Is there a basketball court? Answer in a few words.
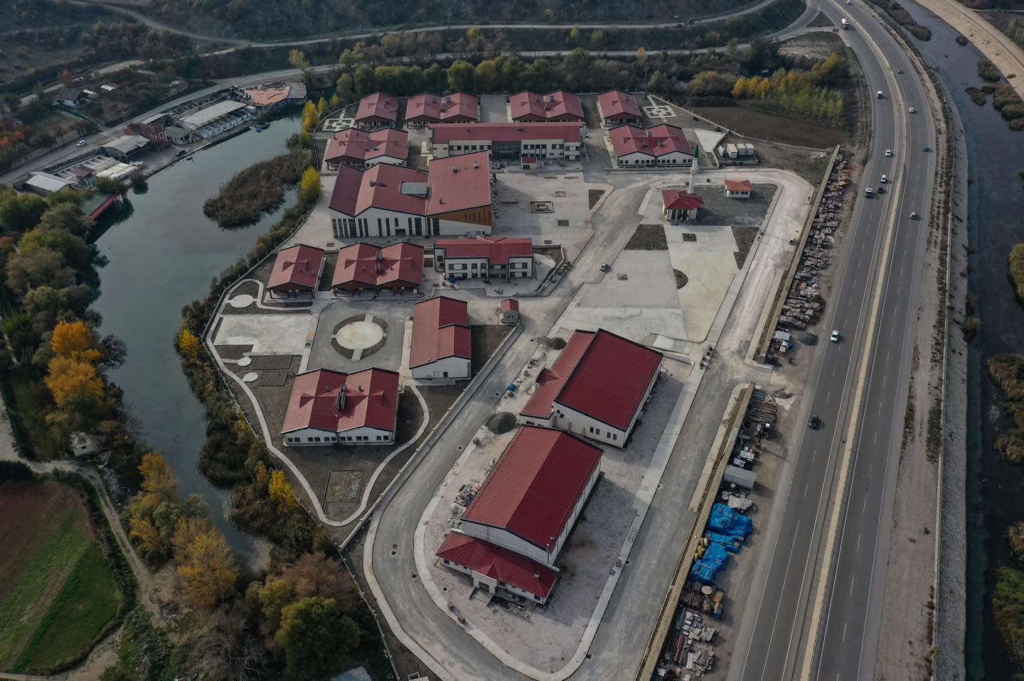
No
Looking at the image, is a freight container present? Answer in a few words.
Yes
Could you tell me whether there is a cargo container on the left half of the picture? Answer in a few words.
No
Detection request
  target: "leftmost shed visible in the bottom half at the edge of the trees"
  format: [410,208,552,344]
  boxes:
[72,432,99,462]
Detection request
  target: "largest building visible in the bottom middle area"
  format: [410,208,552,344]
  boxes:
[438,423,602,616]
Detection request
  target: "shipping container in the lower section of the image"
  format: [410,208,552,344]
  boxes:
[723,466,759,491]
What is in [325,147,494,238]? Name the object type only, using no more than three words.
building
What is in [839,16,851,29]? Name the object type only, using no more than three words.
vehicle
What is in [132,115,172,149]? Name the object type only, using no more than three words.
house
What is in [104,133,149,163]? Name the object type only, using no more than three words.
shed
